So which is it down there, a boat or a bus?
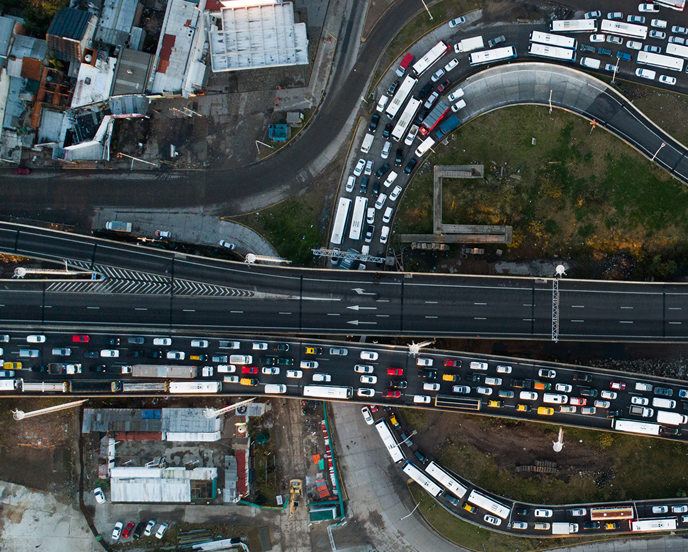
bus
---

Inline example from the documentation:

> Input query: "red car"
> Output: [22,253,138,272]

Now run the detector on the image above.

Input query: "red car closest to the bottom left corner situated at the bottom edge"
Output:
[123,520,135,539]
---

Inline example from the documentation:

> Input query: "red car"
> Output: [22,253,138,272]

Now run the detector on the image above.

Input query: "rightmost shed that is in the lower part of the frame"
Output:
[308,505,338,522]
